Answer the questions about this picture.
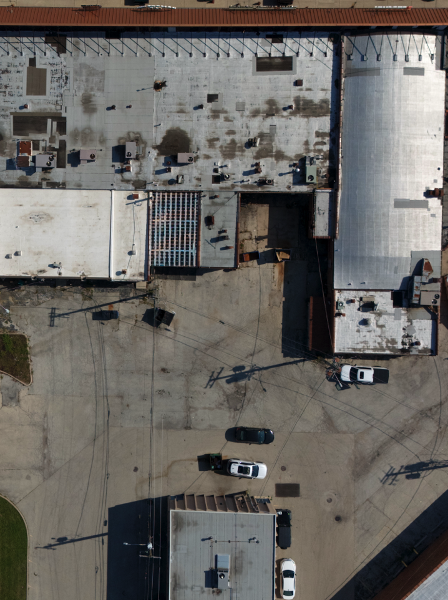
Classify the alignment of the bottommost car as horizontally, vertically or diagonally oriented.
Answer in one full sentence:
What the image shows is the bottommost car lying vertically.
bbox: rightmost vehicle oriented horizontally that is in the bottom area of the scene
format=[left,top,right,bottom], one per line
[339,364,389,385]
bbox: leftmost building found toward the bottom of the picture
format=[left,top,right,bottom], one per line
[166,490,279,600]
